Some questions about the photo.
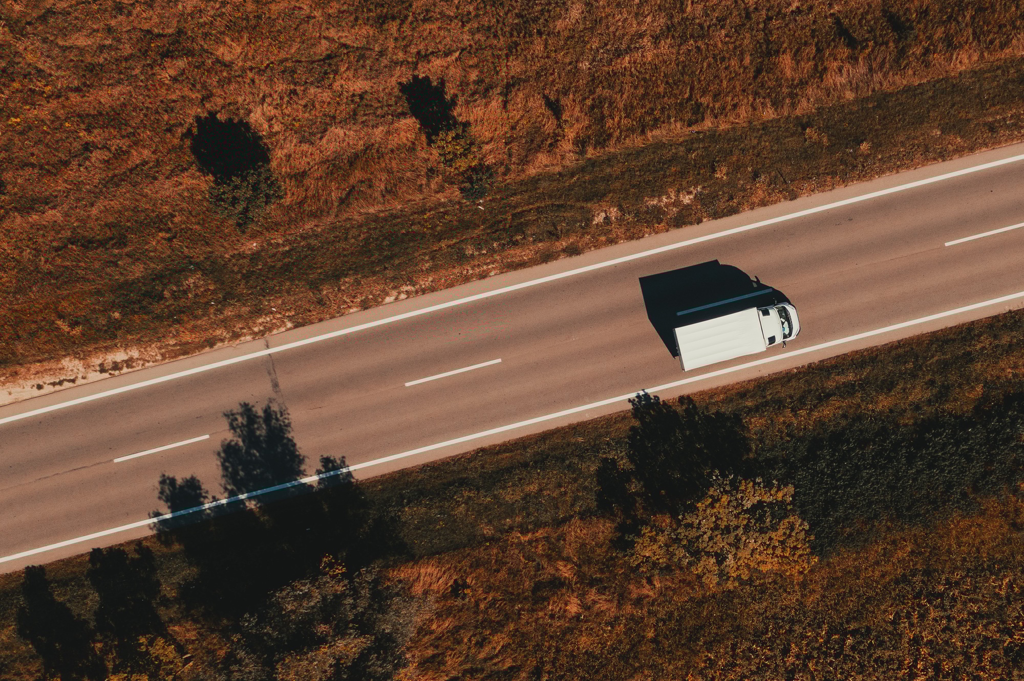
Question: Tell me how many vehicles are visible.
1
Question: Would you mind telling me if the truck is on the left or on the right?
right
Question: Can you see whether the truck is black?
No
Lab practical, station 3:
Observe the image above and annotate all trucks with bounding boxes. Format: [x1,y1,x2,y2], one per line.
[669,297,802,371]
